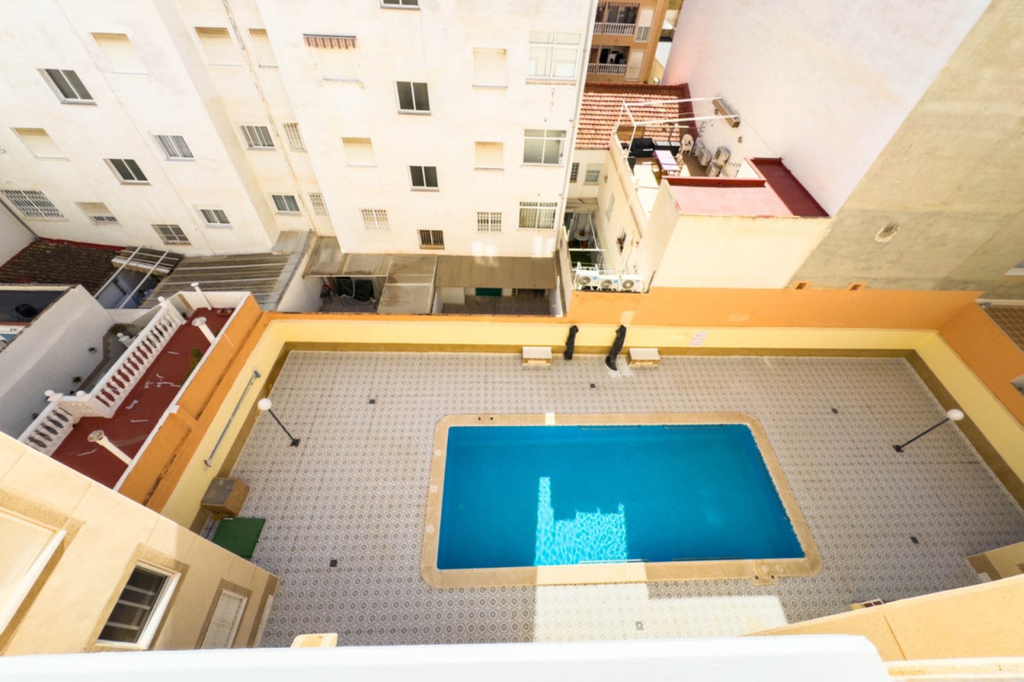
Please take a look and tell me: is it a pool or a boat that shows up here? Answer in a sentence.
Of the two, only a pool appears.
